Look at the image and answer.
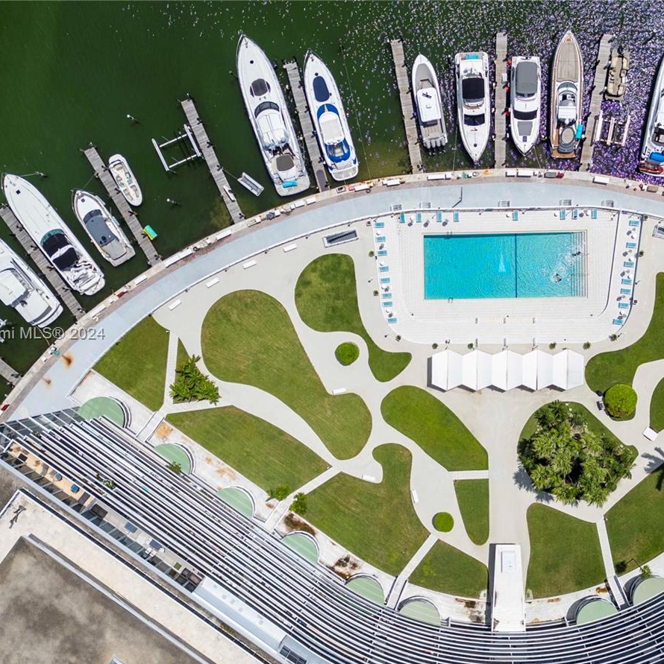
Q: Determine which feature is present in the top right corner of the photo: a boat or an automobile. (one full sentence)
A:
There is a boat in the top right corner of the photo.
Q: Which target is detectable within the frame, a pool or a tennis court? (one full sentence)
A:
The one in the frame is a pool.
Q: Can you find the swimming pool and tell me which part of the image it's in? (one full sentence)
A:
The swimming pool is located in the right region of the scene.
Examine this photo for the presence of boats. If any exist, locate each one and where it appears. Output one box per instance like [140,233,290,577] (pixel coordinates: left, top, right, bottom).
[605,47,630,103]
[235,33,308,202]
[0,242,64,329]
[551,29,584,161]
[73,190,137,269]
[238,170,264,196]
[455,54,490,161]
[508,57,541,155]
[111,153,146,211]
[412,54,445,151]
[0,174,111,301]
[642,64,664,183]
[303,49,360,186]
